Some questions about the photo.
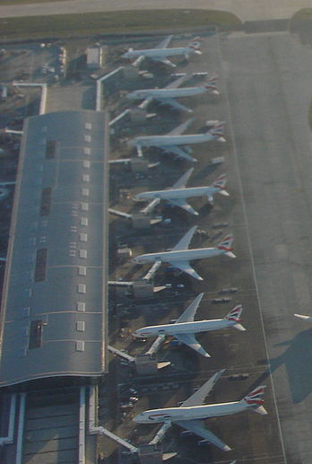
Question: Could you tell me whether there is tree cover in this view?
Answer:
No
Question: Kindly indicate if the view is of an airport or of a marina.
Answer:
airport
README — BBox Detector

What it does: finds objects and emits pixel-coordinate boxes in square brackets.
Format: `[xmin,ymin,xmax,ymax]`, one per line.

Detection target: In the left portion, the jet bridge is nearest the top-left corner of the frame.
[10,81,47,110]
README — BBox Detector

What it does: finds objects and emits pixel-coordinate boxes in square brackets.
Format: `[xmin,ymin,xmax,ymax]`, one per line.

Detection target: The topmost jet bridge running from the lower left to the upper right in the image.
[97,54,154,109]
